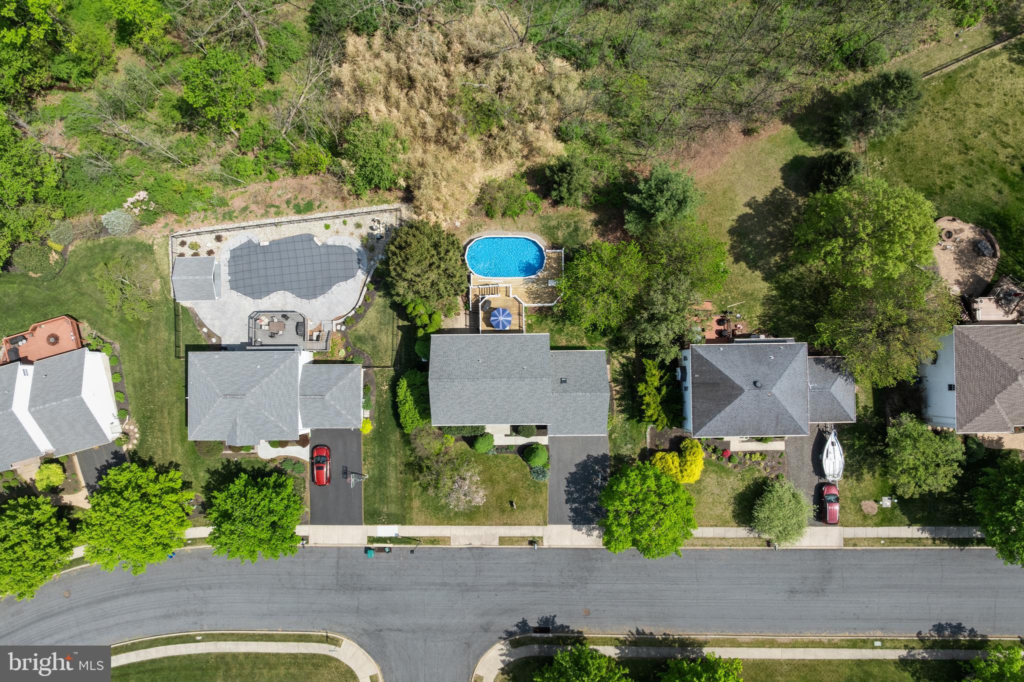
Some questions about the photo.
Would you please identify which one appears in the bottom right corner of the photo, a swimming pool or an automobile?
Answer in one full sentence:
There is an automobile in the bottom right corner of the photo.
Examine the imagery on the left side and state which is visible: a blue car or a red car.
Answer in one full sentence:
What appears on the left side is a red car.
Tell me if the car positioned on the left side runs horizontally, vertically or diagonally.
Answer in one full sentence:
In this picture, the car positioned on the left side is oriented vertically.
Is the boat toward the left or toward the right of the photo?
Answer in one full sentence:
The boat sits on the right side.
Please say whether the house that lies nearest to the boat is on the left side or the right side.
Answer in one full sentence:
The house that lies nearest to the boat sits on the right side.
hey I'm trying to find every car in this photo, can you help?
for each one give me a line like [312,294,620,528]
[310,444,331,486]
[820,482,843,524]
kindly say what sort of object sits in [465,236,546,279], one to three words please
swimming pool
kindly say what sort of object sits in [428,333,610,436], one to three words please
house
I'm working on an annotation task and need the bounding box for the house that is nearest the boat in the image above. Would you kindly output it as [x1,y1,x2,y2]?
[676,337,856,438]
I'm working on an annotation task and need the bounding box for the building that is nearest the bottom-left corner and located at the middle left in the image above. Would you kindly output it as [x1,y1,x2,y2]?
[0,346,133,468]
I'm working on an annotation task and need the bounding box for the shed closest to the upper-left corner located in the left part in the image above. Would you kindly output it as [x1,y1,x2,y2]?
[171,255,221,302]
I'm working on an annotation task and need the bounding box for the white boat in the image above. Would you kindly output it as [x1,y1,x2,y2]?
[822,423,845,493]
